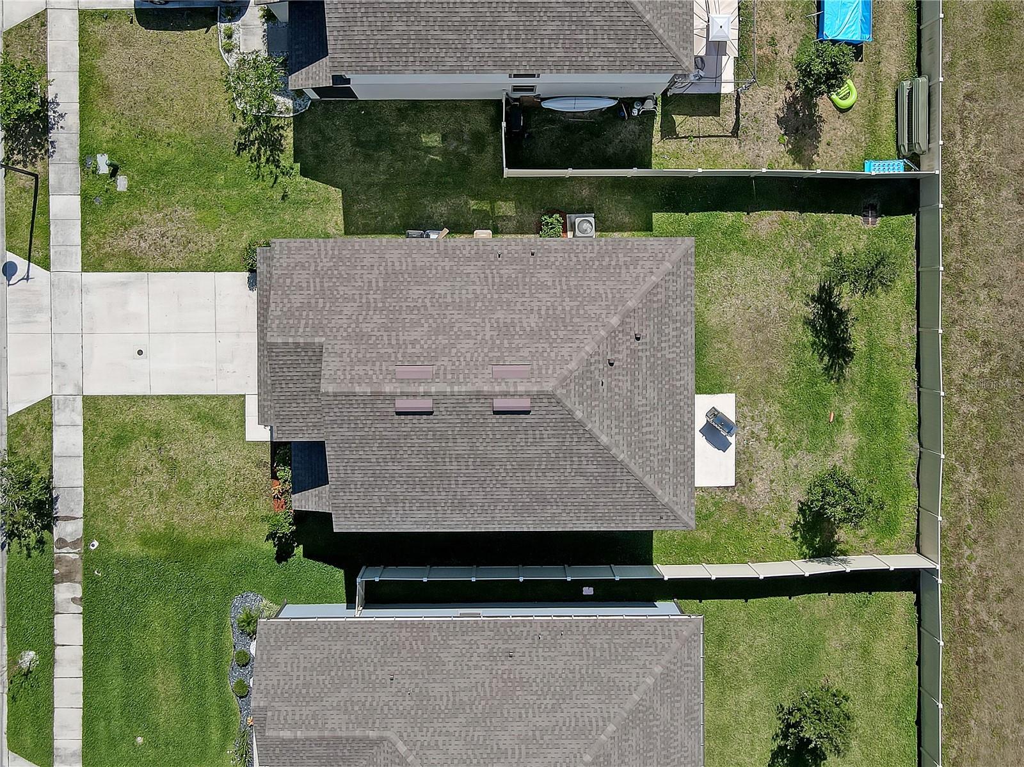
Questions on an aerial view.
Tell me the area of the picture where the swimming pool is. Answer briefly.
top right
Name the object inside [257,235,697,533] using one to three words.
house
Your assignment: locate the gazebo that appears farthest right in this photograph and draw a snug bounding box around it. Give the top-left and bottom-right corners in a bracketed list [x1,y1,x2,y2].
[664,0,756,97]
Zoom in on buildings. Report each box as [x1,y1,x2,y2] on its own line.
[251,599,708,767]
[255,0,694,101]
[257,235,697,533]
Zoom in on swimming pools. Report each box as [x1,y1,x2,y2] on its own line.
[803,0,872,51]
